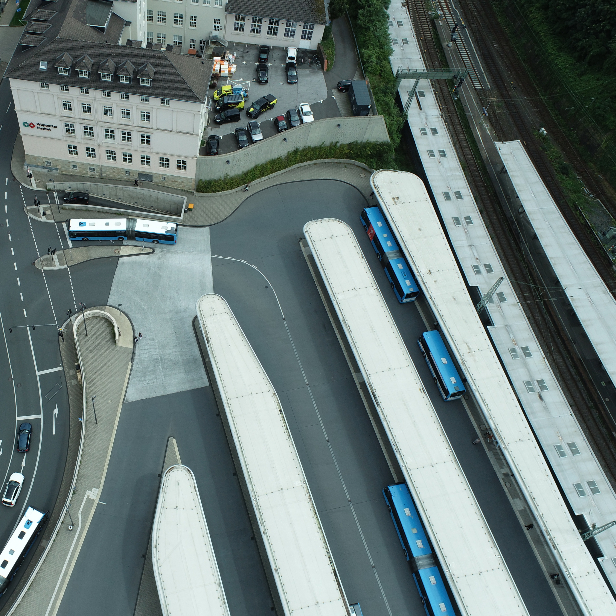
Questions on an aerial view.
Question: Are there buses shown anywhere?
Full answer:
Yes, a bus can be made out from above.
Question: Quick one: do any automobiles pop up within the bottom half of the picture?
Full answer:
Yes, an automobile is visible within the bottom half of the picture.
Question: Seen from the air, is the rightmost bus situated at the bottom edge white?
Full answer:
No, from above the rightmost bus situated at the bottom edge looks blue.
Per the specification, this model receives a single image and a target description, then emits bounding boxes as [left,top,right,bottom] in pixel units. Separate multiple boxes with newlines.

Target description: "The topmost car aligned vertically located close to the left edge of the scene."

[17,422,32,454]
